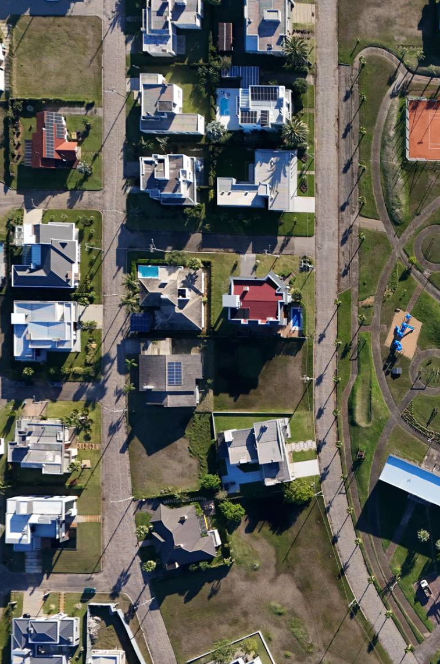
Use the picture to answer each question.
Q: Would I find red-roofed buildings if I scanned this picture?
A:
Yes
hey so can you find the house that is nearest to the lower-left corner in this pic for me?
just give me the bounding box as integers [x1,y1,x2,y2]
[12,617,80,664]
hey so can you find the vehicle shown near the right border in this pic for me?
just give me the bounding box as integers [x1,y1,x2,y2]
[419,580,432,597]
